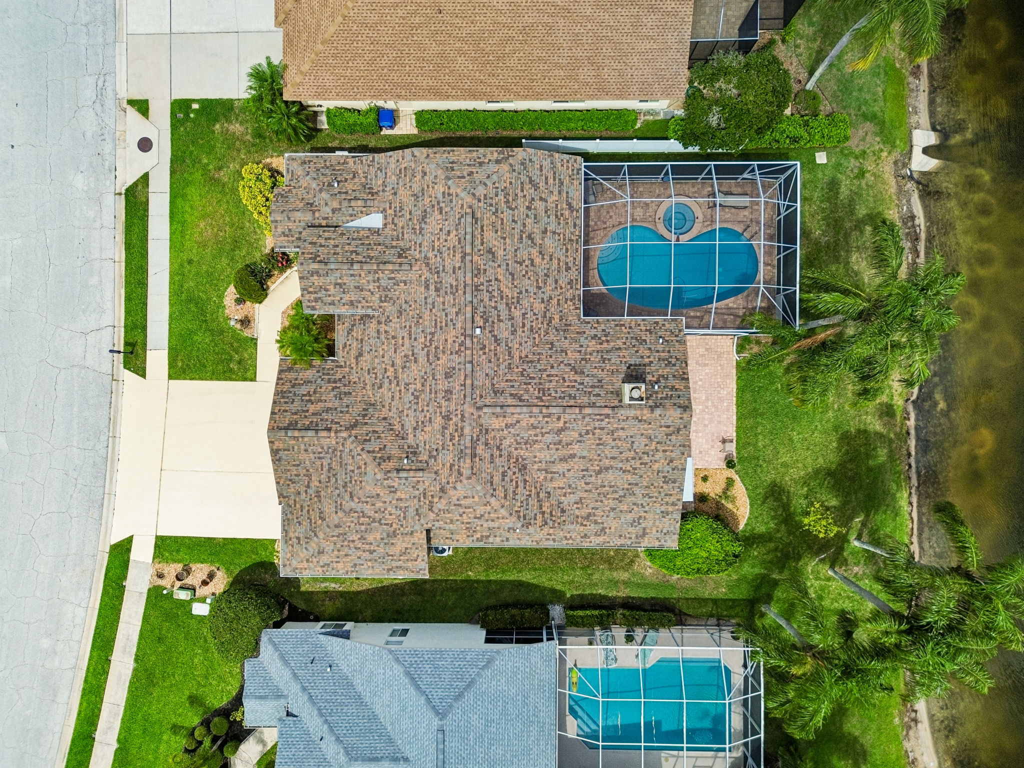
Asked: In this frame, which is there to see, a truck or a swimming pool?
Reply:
swimming pool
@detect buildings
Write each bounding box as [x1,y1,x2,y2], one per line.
[268,148,695,578]
[275,0,693,109]
[242,621,558,768]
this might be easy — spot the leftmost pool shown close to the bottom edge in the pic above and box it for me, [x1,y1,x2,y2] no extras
[565,654,734,755]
